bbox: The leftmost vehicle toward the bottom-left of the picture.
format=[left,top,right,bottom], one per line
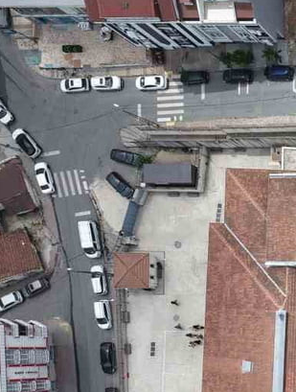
[0,289,28,313]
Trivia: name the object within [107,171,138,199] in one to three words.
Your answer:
car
